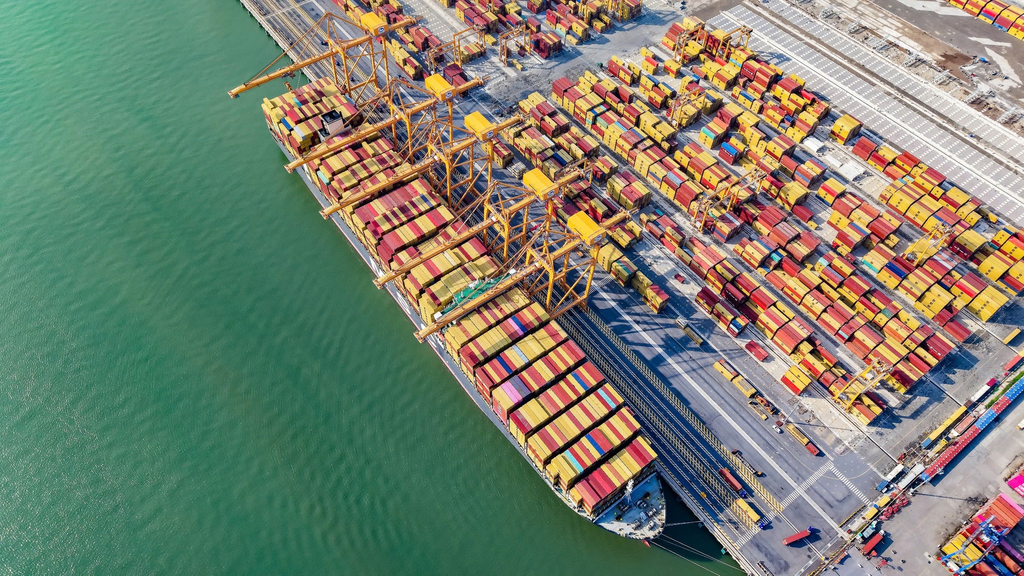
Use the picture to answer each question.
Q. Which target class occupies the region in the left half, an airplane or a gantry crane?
gantry crane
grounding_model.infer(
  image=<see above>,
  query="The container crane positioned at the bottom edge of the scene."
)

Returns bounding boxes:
[935,511,1013,576]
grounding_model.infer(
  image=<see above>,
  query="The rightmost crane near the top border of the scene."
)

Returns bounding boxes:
[715,17,756,61]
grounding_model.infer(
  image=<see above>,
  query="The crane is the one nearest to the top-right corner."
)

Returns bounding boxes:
[900,213,959,262]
